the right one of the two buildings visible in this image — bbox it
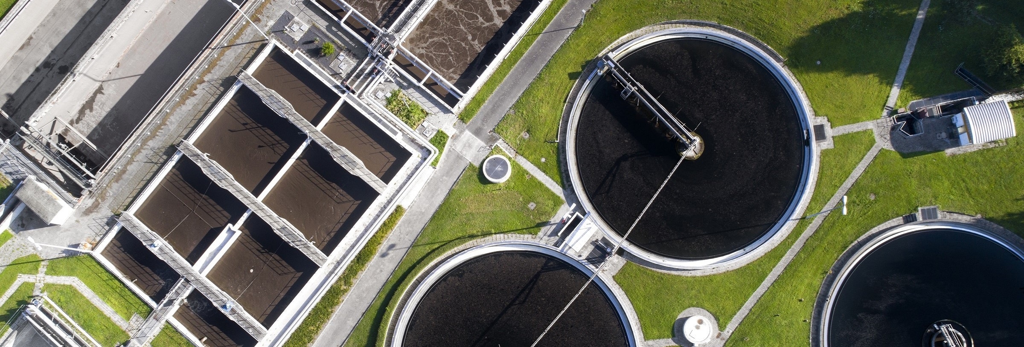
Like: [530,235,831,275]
[953,100,1015,148]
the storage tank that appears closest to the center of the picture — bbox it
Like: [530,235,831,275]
[483,154,511,183]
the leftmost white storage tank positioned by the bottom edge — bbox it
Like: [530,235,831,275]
[682,316,713,347]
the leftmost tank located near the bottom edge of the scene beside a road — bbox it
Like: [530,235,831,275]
[390,239,641,347]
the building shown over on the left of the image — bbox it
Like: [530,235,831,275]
[15,175,76,224]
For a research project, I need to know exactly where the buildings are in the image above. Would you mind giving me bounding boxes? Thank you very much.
[15,175,76,224]
[953,100,1015,148]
